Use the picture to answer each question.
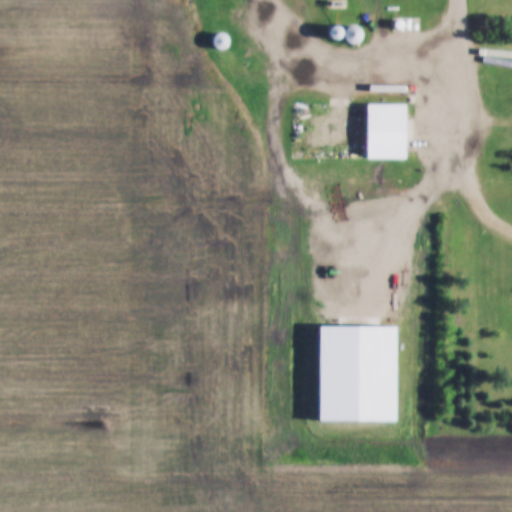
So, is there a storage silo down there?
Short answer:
Yes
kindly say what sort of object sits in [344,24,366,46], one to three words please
silo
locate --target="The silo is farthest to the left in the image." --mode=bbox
[212,32,232,52]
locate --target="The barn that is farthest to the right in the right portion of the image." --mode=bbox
[366,102,407,160]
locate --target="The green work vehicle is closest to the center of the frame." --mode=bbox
[326,266,342,279]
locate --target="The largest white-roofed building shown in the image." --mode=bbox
[319,324,398,422]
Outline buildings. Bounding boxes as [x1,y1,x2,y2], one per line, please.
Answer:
[319,324,398,422]
[366,102,407,160]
